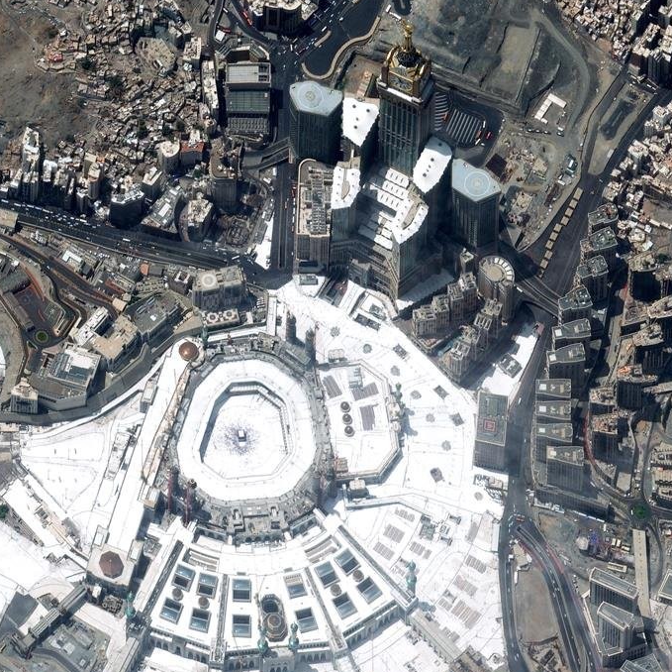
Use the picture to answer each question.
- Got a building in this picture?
Yes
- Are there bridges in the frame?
Yes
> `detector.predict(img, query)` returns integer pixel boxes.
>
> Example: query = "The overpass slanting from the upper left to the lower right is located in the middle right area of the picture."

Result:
[514,281,558,323]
